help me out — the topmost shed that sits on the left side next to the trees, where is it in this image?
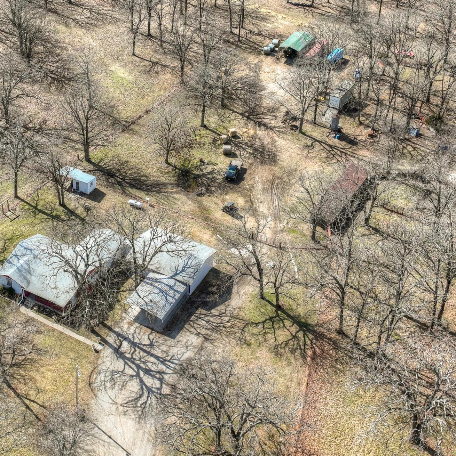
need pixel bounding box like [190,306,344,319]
[57,166,97,195]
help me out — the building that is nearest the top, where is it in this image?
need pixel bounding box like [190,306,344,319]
[280,26,317,57]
